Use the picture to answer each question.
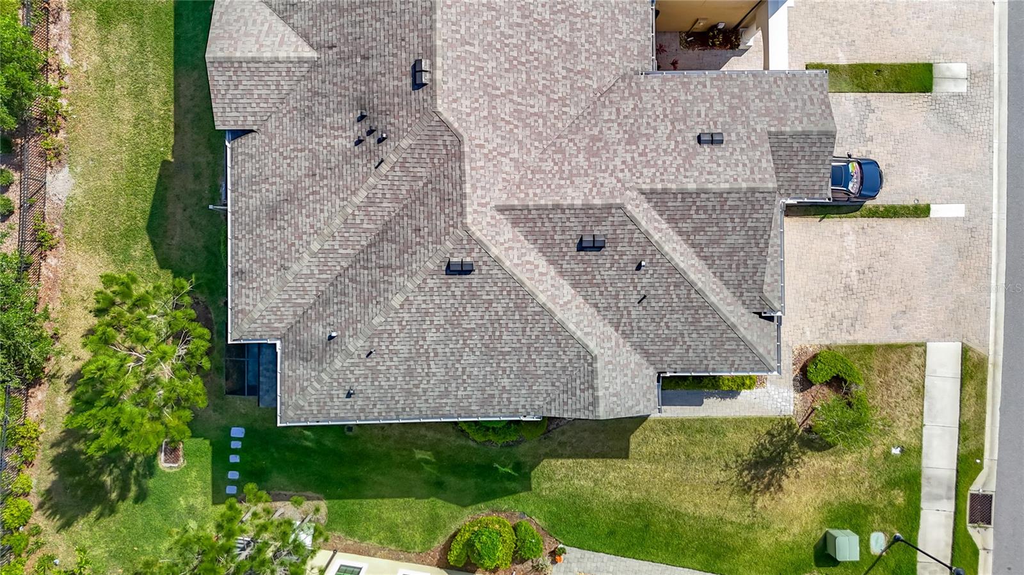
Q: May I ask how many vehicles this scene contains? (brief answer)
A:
1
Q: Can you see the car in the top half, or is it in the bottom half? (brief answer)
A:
top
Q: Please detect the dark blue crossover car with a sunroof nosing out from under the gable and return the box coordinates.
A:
[830,150,886,205]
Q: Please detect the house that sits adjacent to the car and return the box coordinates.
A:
[206,0,836,424]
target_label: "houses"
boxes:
[206,0,836,424]
[301,549,475,575]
